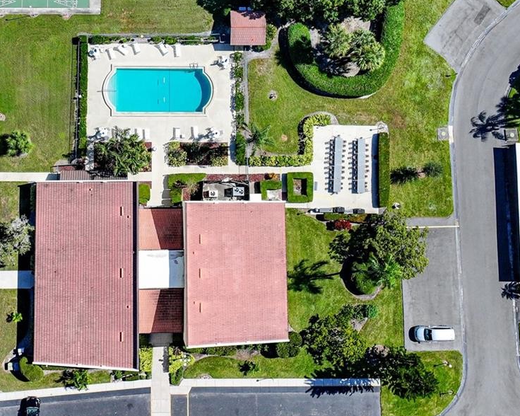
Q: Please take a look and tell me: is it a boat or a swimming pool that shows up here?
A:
swimming pool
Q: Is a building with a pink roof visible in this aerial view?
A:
Yes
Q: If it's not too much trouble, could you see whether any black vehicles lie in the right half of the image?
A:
No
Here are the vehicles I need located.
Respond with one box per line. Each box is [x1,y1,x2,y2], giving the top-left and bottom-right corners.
[21,393,38,416]
[415,327,455,345]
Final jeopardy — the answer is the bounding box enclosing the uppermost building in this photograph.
[230,7,266,45]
